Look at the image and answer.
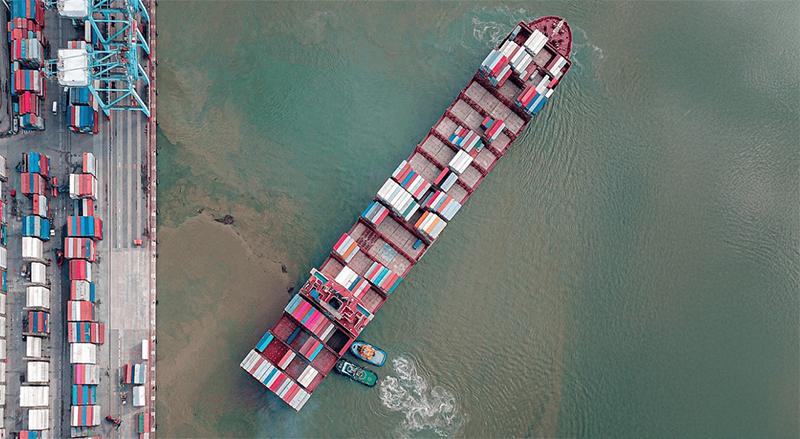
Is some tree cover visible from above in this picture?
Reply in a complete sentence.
No, the scene doesn't show any tree cover.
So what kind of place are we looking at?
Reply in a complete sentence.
What you see here is a port.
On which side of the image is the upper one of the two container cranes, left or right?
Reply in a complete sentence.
The upper one of the two container cranes sits on the left side.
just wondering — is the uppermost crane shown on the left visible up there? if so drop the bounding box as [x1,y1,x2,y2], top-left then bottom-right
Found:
[41,0,150,59]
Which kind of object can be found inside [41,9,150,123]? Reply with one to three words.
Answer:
container crane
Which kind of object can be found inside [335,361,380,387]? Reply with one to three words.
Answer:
boat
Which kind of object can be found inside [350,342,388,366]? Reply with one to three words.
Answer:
boat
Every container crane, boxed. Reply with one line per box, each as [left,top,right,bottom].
[41,0,150,59]
[41,9,150,123]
